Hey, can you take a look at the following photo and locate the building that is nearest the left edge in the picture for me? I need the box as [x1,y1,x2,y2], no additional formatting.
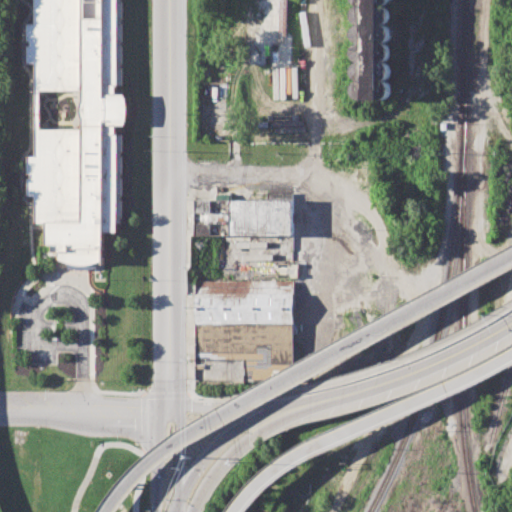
[26,0,129,274]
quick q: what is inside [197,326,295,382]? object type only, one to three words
building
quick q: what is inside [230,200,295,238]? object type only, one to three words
building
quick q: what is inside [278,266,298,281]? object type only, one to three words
shed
